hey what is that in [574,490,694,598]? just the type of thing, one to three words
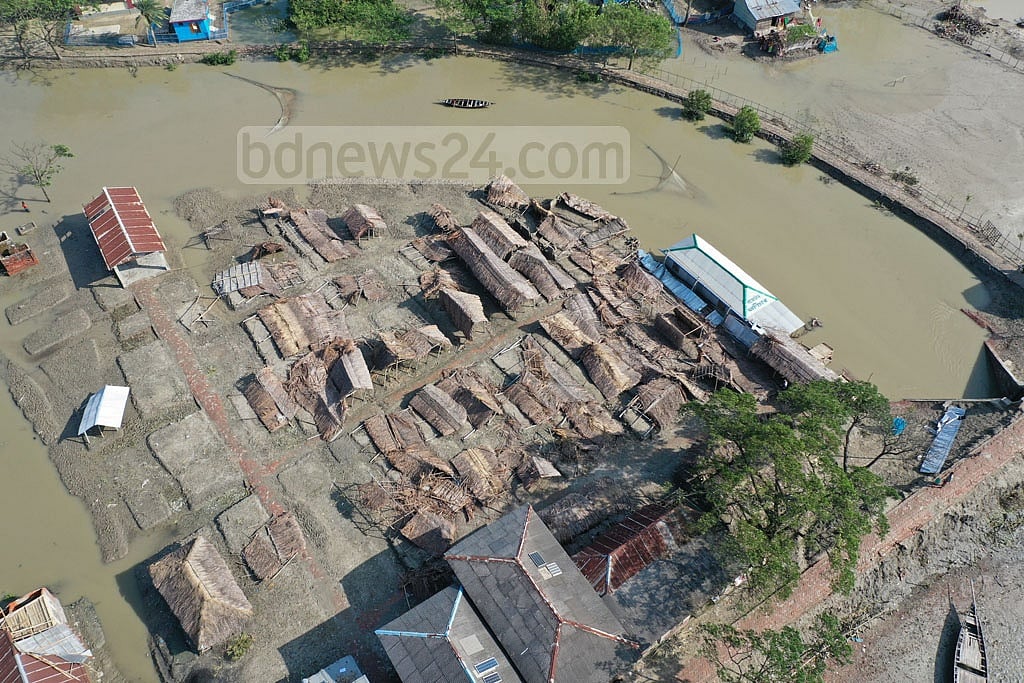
house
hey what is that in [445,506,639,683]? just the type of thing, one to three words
building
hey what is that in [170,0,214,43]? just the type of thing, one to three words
house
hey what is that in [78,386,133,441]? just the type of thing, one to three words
shed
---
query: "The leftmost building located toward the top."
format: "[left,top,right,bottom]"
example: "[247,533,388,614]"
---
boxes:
[82,186,170,288]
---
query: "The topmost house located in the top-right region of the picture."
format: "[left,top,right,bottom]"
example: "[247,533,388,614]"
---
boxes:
[727,0,801,37]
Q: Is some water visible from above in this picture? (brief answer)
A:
Yes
